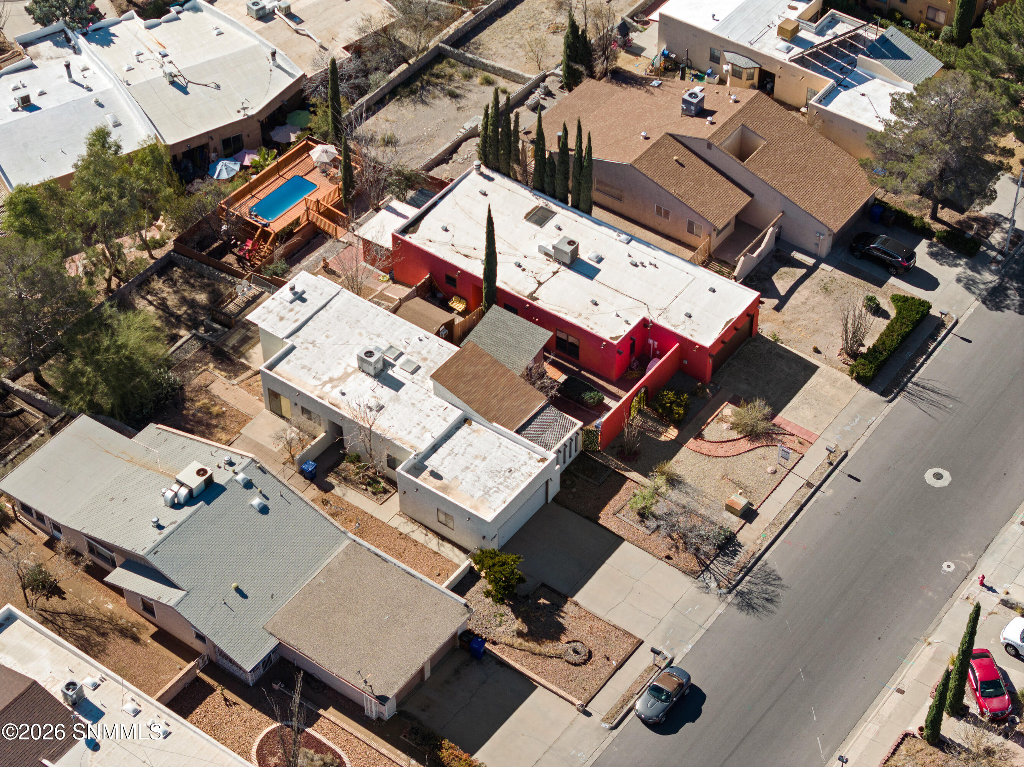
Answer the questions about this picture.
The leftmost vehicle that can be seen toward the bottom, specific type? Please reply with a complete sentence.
The leftmost vehicle that can be seen toward the bottom is a car.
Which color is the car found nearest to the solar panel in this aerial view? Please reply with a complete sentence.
The car found nearest to the solar panel looks black in the image.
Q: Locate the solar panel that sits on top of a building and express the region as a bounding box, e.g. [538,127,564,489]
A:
[787,20,874,75]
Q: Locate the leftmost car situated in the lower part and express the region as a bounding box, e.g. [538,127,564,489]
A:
[632,665,692,727]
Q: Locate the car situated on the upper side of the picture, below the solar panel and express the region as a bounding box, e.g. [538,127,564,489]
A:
[848,231,920,275]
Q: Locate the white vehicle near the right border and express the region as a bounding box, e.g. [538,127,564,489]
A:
[1000,616,1024,654]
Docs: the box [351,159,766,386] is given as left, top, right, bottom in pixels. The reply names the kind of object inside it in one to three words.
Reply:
house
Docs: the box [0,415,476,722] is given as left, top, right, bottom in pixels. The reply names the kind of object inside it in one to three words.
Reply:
house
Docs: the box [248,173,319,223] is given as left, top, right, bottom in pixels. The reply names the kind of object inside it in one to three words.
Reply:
swimming pool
